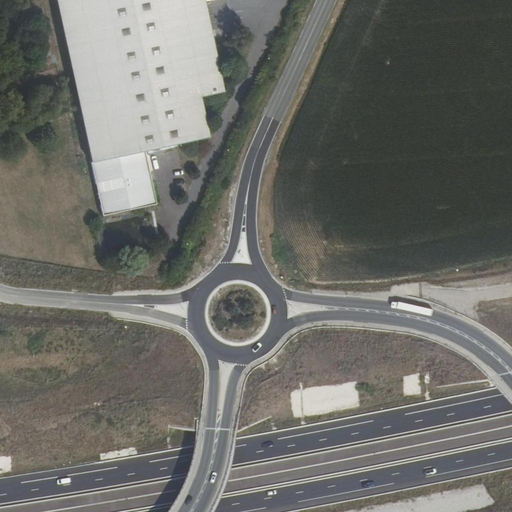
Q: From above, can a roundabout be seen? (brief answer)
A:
Yes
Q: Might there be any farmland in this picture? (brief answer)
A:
Yes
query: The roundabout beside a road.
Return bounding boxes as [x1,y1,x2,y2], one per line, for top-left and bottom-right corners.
[153,230,325,410]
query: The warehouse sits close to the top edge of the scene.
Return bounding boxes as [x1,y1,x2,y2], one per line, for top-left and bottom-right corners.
[58,0,226,162]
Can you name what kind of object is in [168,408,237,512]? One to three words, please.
overpass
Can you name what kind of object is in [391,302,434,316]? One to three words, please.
vehicle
